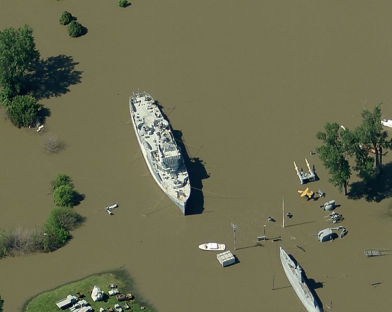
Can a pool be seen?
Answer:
No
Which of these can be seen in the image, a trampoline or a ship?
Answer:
ship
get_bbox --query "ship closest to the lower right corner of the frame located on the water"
[279,242,322,312]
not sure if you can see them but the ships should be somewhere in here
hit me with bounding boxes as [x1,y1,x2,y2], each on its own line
[131,93,188,212]
[279,242,322,312]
